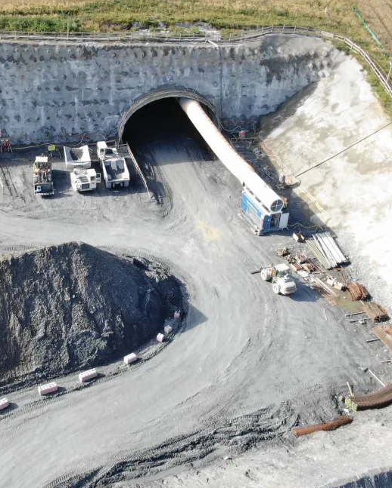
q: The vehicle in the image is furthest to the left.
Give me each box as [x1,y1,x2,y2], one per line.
[34,151,59,196]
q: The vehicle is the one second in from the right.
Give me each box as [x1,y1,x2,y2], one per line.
[97,136,134,189]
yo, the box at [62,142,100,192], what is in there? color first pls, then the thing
white truck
